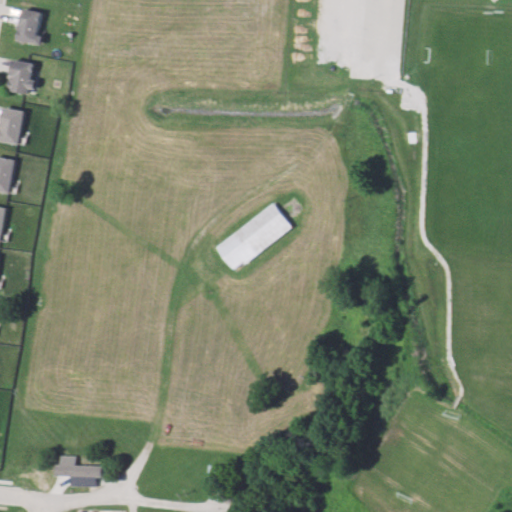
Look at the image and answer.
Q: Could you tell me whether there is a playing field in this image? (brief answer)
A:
Yes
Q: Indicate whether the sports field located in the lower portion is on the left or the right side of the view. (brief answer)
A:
right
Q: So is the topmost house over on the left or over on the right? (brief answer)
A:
left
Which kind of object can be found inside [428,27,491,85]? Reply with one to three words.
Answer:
sports field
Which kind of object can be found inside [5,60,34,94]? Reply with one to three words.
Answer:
house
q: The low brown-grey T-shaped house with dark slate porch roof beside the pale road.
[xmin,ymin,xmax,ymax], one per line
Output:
[53,455,101,488]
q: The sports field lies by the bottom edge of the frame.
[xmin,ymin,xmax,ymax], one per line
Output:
[357,390,512,512]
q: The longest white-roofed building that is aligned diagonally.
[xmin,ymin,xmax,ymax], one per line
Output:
[216,202,293,271]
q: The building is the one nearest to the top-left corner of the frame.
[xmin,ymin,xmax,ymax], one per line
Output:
[13,8,42,44]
